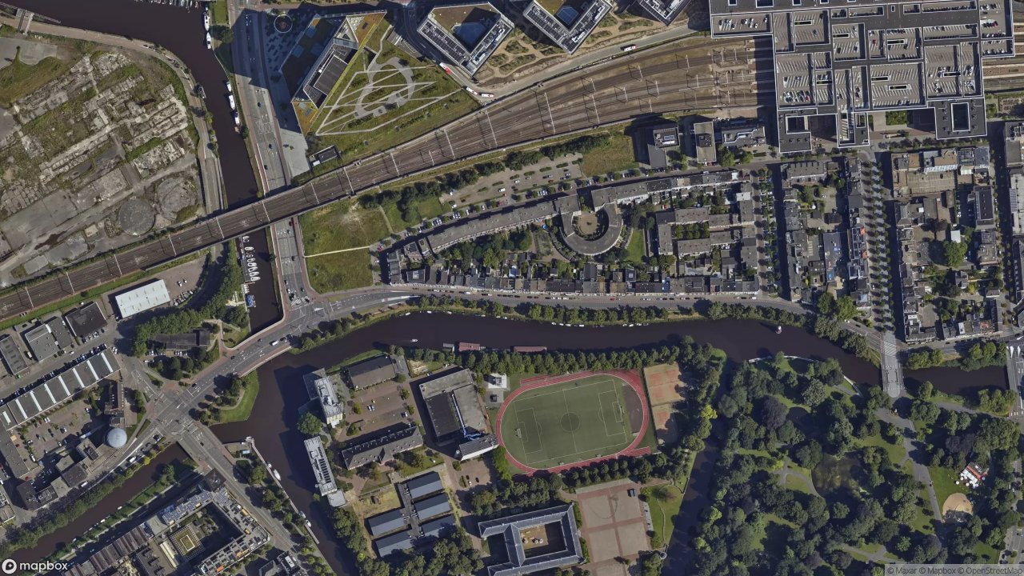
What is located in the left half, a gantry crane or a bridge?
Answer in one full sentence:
Visible in the left half is a bridge.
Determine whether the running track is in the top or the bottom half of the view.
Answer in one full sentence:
You can find the running track in the bottom half.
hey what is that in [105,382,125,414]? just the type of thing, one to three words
building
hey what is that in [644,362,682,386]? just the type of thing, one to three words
tennis court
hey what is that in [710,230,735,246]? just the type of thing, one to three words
house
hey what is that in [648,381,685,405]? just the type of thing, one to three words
tennis court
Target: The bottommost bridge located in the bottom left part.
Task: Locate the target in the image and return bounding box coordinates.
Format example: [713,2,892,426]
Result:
[177,426,223,461]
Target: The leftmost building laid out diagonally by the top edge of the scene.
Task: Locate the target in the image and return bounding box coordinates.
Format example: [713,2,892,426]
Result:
[280,12,387,140]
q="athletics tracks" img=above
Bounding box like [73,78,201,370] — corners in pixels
[495,369,651,475]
